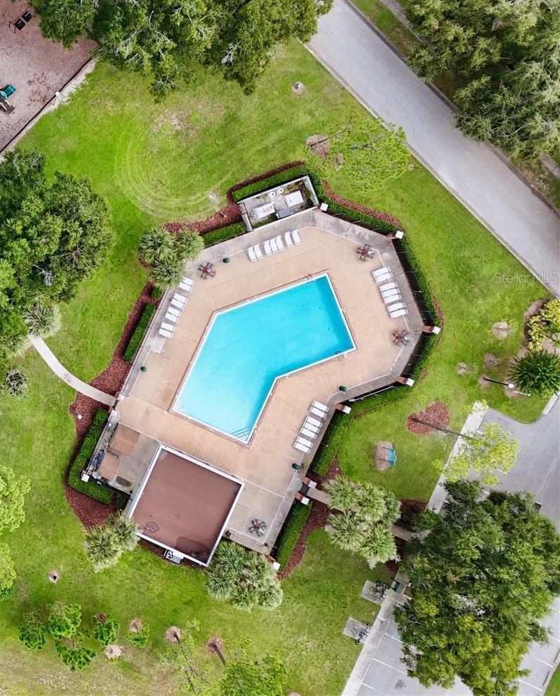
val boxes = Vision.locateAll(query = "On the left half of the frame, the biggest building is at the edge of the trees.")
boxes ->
[124,442,246,567]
